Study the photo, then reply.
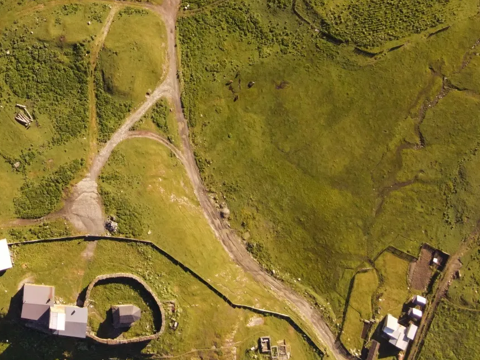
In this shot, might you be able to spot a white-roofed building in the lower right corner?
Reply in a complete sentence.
Yes, looking in the lower right corner, one can make out a white-roofed building.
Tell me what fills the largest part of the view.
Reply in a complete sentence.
What you mostly see from above here is grass.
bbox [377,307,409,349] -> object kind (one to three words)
house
